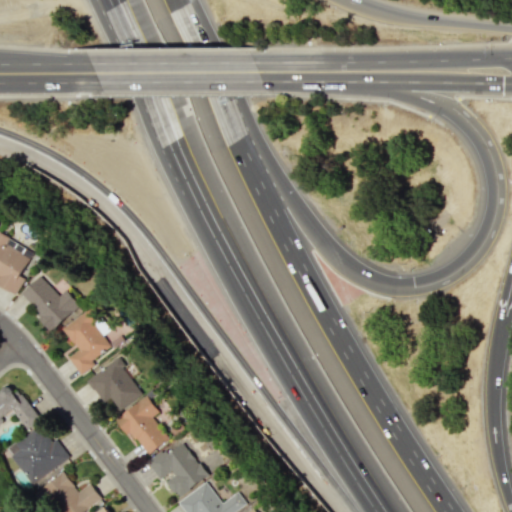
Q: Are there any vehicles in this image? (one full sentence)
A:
Yes, the picture does show a vehicle.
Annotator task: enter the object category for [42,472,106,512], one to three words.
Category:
house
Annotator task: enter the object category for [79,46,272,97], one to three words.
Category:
overpass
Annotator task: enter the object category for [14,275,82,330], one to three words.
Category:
house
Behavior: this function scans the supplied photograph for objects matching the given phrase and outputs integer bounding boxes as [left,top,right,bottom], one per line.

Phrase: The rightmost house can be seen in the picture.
[180,482,248,512]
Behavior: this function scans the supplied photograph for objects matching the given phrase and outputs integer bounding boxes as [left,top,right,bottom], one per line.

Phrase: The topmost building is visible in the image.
[0,232,34,298]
